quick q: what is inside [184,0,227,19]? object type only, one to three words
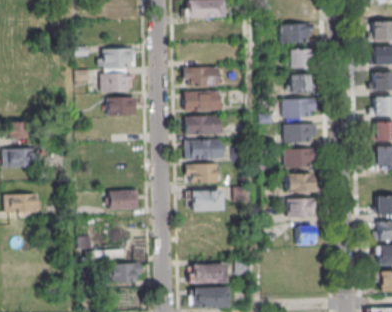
house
